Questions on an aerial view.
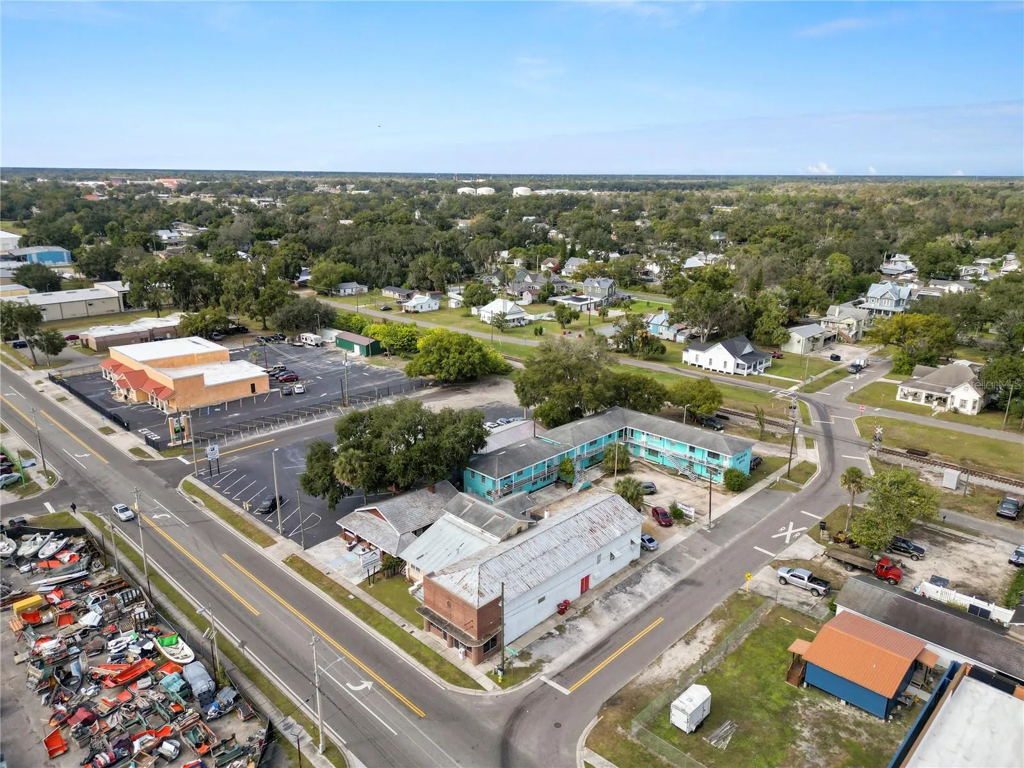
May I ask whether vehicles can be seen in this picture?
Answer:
Yes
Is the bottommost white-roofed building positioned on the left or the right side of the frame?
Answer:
right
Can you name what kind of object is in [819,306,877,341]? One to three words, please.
house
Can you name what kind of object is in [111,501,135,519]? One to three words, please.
car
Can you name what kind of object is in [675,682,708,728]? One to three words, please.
trailer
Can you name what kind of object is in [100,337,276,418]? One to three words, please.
building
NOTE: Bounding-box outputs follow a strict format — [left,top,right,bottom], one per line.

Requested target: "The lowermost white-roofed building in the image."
[898,662,1024,768]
